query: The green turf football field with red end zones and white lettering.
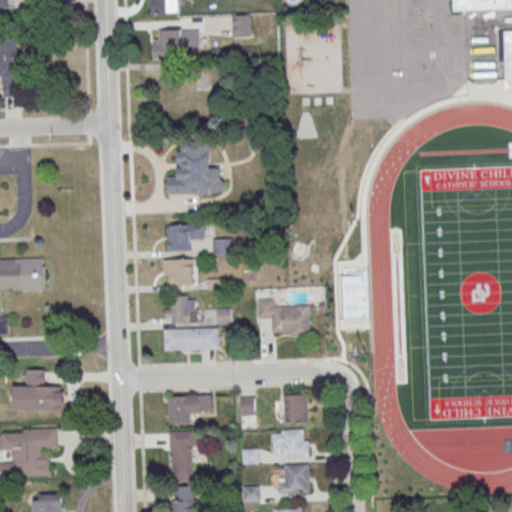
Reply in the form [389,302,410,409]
[390,126,512,433]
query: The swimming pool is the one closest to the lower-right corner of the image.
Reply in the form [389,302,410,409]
[286,291,308,306]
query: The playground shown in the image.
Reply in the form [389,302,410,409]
[285,24,343,95]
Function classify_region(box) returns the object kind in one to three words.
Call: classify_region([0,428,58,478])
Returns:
house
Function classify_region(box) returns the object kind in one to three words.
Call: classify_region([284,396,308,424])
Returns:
house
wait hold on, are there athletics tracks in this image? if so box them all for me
[368,104,512,497]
